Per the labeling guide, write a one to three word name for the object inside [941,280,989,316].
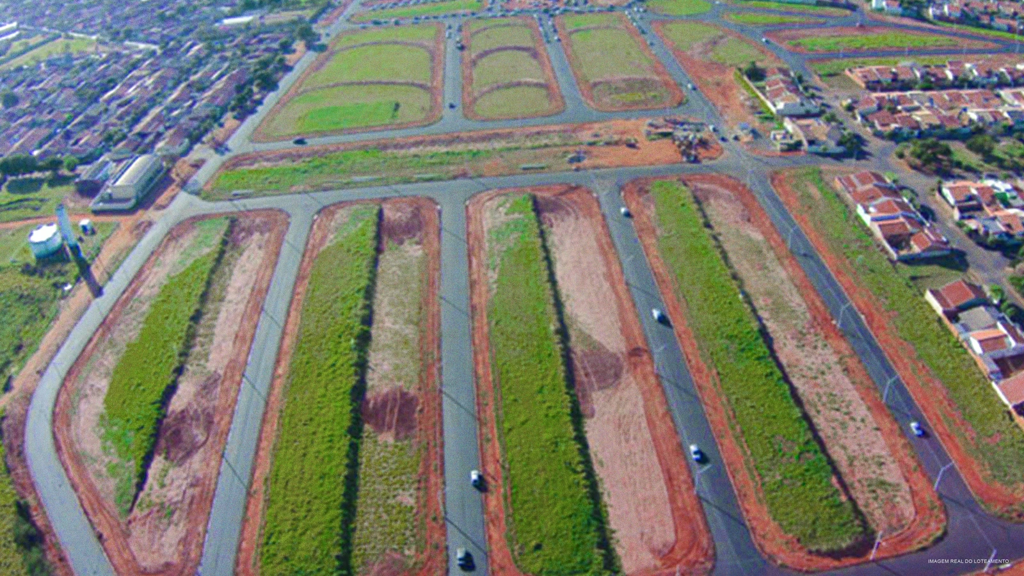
house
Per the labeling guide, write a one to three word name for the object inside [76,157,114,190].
shed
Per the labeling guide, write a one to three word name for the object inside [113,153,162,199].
building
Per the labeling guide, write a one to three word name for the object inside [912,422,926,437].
car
